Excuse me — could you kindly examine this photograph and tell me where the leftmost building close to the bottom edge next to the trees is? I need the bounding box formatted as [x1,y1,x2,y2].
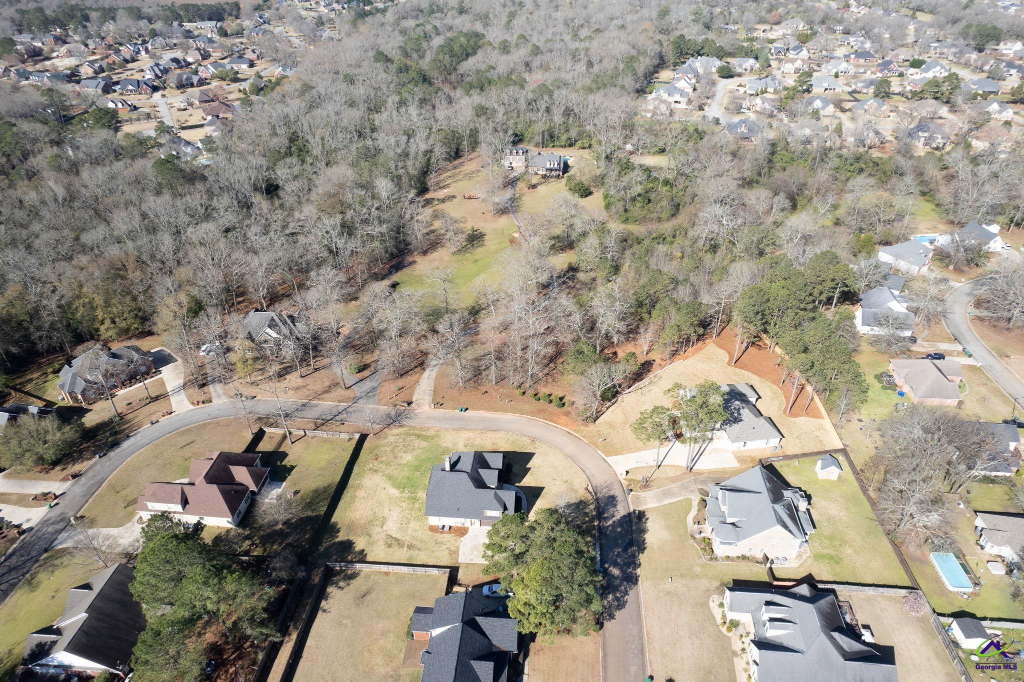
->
[21,559,164,682]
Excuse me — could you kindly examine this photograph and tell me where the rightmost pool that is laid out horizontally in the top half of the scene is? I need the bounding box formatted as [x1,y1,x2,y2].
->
[901,232,950,249]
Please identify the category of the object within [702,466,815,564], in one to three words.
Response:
house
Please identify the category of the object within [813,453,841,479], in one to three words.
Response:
shed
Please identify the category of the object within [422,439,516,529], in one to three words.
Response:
house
